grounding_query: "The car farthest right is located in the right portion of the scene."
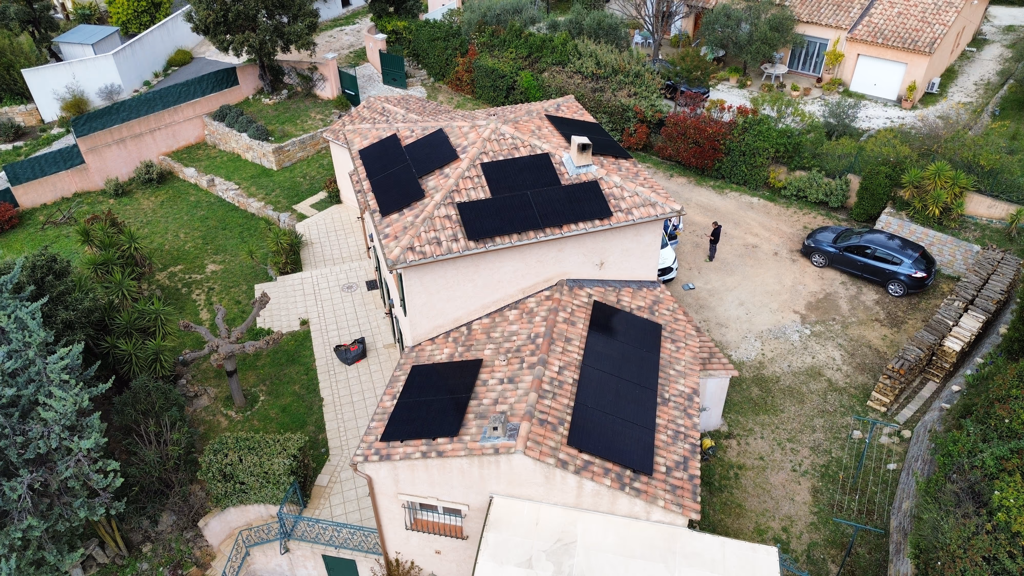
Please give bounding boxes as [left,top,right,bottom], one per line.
[801,225,944,298]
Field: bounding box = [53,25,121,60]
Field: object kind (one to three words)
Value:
shed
